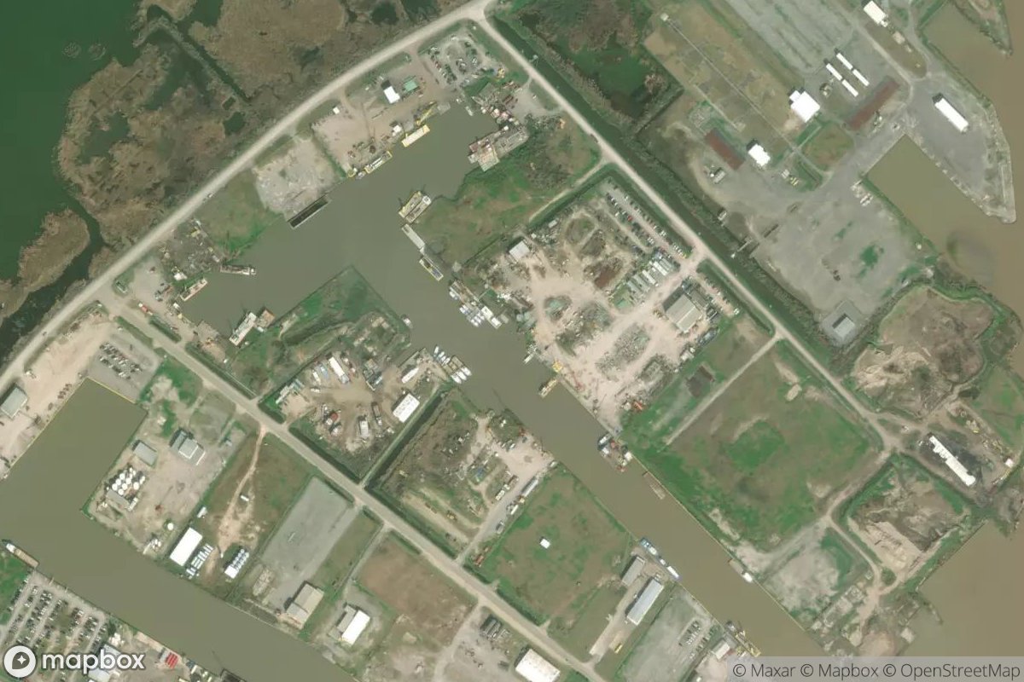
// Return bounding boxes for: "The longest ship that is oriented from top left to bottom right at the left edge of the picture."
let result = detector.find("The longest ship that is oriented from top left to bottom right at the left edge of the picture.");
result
[5,543,38,568]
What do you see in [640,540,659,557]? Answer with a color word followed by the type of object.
white ship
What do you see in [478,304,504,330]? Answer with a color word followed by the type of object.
white boat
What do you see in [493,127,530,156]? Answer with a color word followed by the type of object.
gray ship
